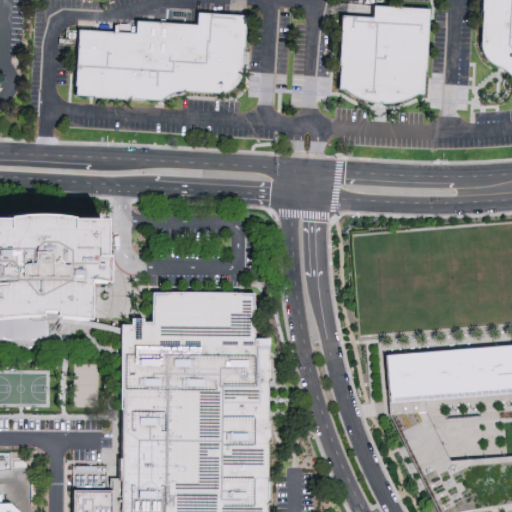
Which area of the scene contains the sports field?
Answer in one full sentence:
You can find the sports field in the right area of the picture.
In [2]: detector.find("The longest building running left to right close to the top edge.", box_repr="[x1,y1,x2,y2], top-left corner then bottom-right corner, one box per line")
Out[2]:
[76,12,247,101]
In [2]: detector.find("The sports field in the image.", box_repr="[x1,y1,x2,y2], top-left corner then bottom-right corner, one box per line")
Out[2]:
[353,224,512,336]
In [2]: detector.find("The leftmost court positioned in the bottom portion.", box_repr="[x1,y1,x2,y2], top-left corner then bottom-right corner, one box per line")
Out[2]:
[0,370,50,406]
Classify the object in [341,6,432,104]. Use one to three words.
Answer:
building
